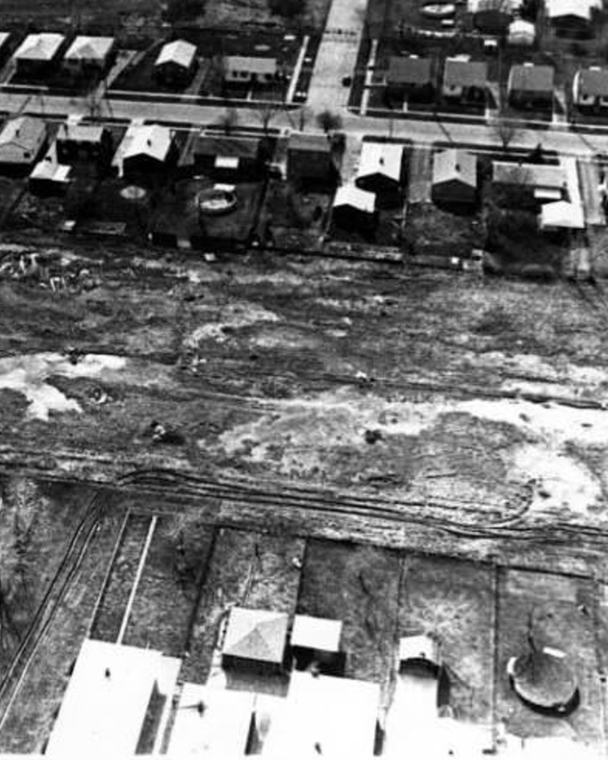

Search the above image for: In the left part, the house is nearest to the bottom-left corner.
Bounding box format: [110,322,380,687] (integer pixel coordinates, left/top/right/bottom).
[45,640,181,760]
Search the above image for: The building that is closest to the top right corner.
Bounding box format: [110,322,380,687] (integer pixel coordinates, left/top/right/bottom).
[536,0,600,29]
